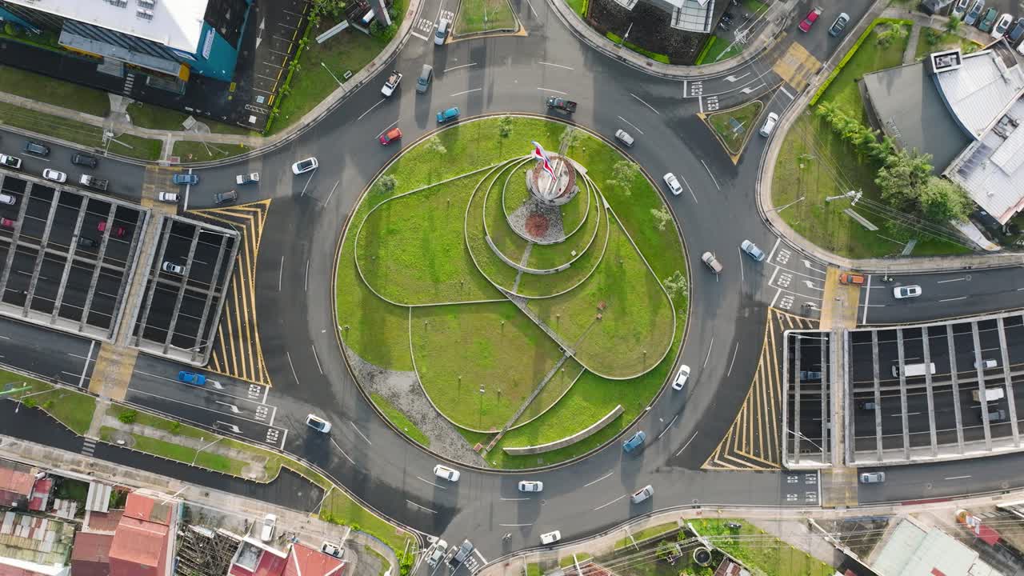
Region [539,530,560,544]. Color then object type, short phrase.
white car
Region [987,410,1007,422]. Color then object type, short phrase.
gray vehicle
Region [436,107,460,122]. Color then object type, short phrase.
blue car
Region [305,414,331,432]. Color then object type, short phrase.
white car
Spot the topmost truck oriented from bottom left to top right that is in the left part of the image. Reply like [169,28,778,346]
[378,67,403,98]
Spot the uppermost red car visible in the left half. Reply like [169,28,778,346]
[378,128,401,144]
